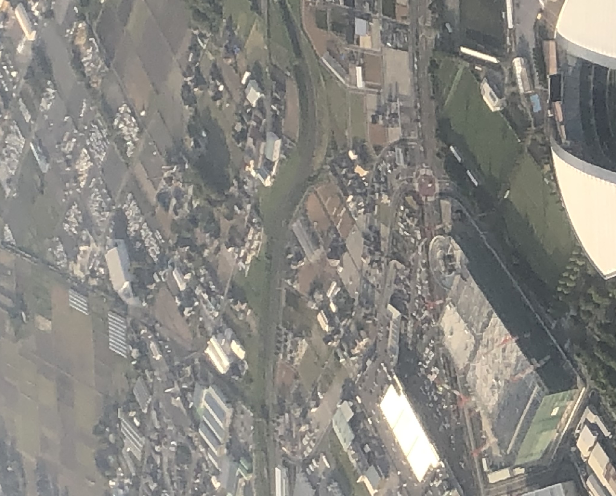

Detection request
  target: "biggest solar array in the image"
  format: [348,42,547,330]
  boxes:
[107,313,127,358]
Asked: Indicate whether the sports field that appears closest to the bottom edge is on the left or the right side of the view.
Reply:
right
